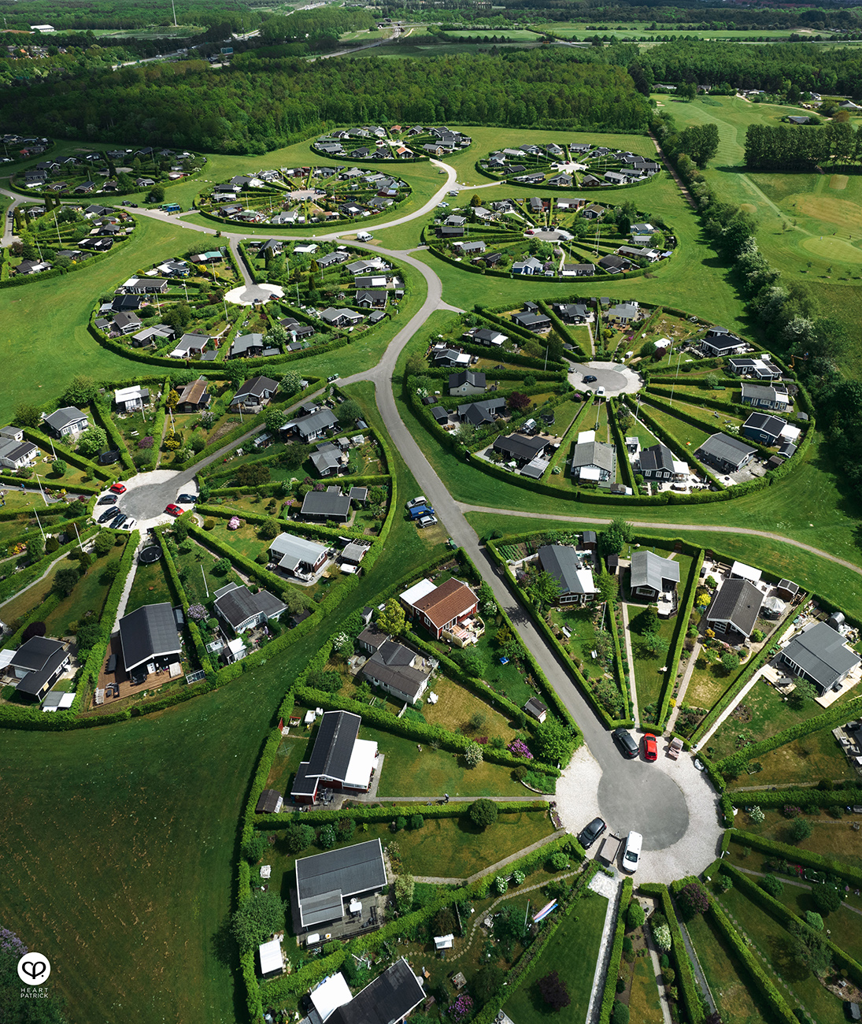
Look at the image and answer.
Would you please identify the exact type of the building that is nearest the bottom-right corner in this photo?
house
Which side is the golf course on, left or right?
right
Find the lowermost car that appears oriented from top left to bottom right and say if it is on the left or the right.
right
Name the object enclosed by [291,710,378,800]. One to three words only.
house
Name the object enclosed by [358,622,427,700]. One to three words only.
house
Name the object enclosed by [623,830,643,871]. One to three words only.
vehicle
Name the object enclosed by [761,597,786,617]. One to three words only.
gazebo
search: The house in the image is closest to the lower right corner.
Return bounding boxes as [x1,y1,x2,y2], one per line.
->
[780,631,860,688]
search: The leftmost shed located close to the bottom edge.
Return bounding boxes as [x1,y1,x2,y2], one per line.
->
[259,939,283,977]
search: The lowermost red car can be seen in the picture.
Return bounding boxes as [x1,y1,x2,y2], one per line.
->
[643,733,659,761]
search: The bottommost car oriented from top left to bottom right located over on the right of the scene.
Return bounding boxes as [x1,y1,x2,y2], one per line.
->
[615,729,641,759]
